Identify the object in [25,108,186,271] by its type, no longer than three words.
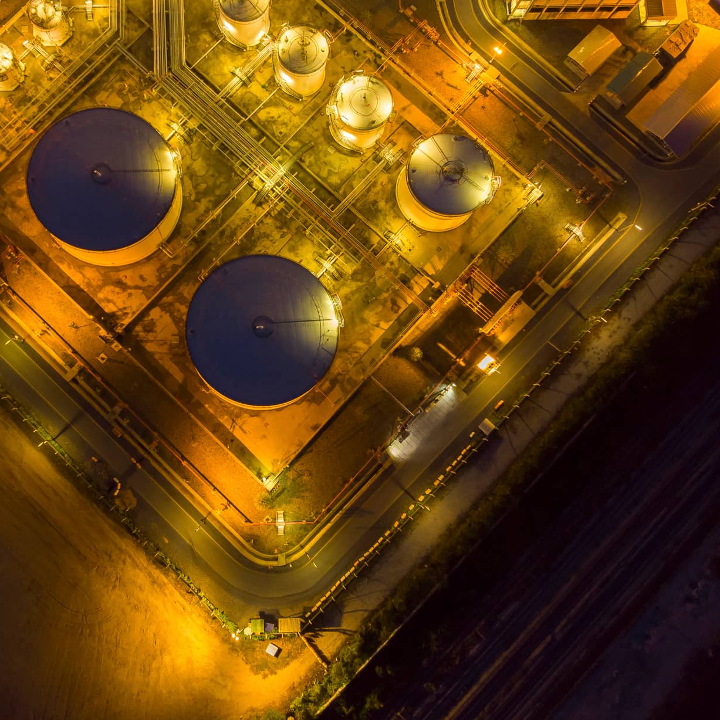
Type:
storage tank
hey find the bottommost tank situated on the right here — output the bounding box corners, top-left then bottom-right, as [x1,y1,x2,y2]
[394,132,503,236]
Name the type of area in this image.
industrial area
